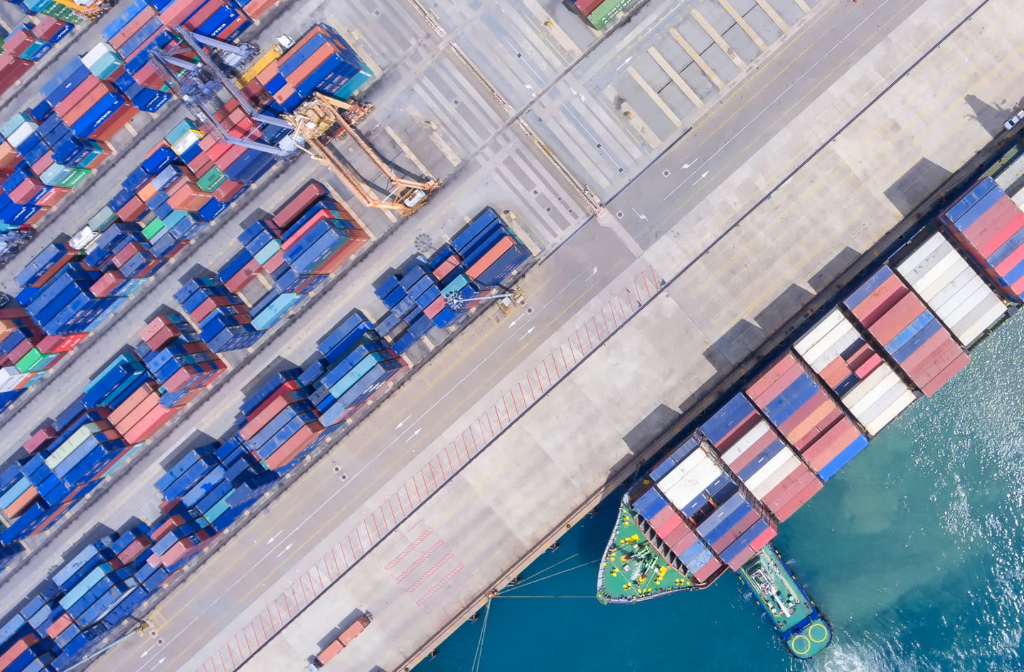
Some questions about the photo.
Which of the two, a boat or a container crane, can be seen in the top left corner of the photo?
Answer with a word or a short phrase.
container crane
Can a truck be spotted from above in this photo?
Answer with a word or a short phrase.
Yes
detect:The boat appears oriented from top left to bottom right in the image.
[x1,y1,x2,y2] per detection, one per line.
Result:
[733,540,836,660]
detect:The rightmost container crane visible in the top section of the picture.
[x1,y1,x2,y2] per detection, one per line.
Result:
[284,88,449,218]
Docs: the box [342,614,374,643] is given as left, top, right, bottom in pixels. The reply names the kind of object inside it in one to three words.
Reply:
shipping container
